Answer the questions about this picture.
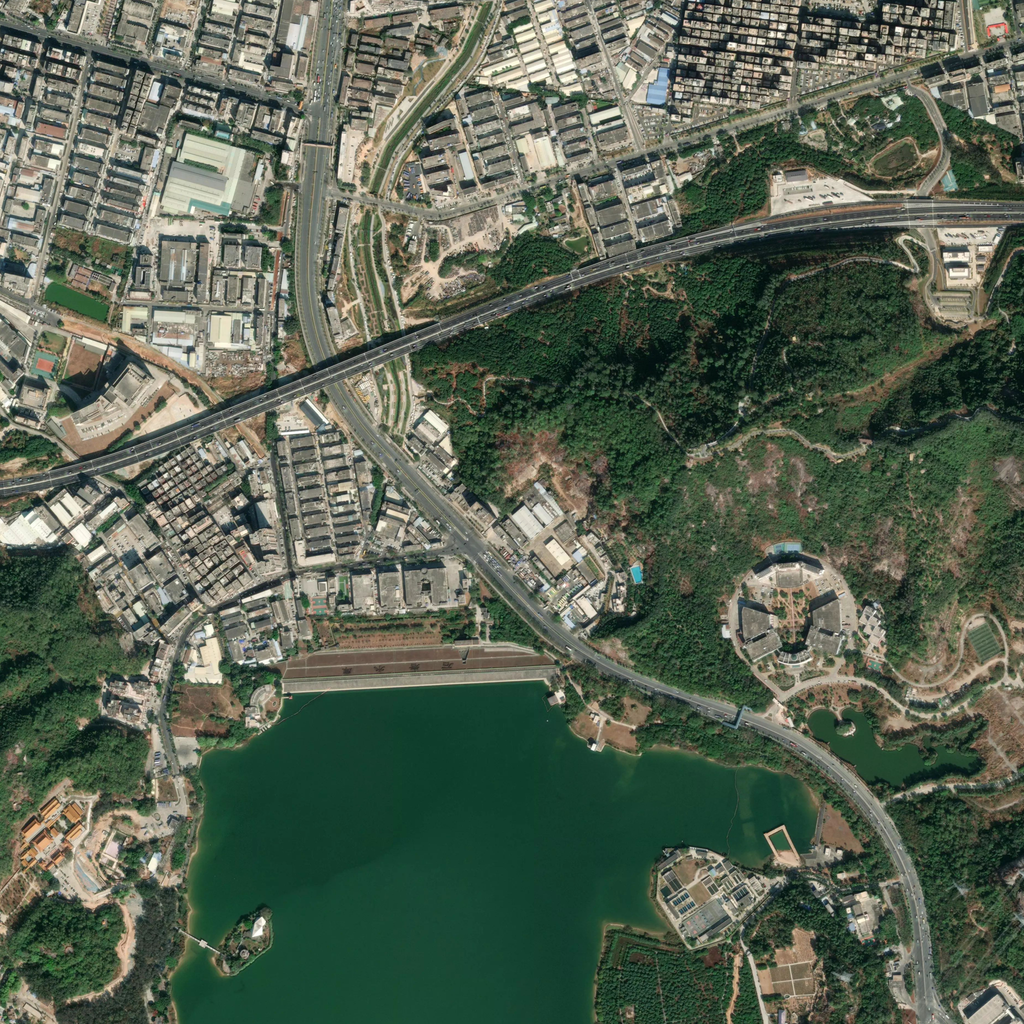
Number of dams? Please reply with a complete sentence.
Only 1 dam is visible.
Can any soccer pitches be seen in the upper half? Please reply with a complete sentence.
No, no soccer pitch appears in the upper half.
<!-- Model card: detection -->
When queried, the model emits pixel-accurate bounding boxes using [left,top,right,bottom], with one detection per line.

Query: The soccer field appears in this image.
[968,623,1001,662]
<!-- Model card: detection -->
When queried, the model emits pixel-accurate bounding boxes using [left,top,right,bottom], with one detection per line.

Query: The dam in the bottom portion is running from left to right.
[283,645,556,693]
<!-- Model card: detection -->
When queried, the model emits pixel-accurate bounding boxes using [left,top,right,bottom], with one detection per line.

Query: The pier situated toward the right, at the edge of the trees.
[761,824,801,865]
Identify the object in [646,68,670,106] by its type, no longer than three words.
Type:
shed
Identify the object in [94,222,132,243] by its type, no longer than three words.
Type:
building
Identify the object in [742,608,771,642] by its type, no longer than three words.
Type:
building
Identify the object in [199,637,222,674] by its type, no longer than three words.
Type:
shed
